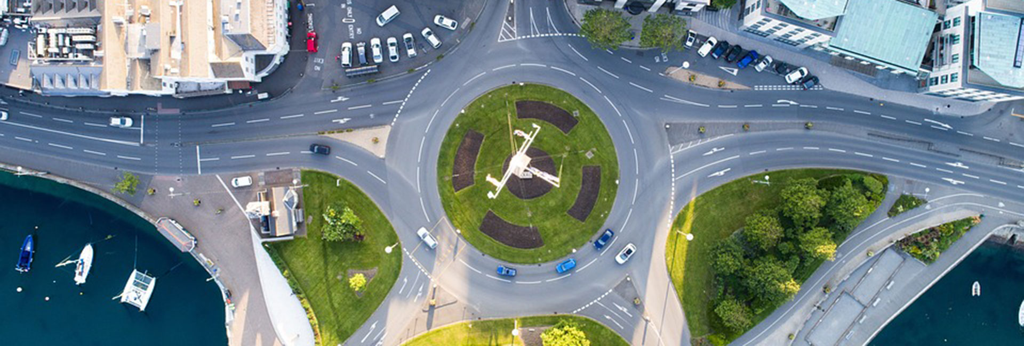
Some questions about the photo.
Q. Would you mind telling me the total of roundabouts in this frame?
1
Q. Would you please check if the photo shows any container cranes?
No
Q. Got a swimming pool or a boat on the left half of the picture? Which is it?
boat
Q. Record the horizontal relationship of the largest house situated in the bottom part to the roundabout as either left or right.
left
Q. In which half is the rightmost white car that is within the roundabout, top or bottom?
bottom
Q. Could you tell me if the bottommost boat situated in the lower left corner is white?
Yes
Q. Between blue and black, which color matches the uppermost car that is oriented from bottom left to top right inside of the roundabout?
blue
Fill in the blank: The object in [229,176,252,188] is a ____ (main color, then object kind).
white vehicle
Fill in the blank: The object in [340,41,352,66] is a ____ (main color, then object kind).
white vehicle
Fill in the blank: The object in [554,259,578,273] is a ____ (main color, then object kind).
blue car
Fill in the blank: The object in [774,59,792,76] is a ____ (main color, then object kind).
black car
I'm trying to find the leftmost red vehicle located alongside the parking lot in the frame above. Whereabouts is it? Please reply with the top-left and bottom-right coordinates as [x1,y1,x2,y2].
[305,31,317,52]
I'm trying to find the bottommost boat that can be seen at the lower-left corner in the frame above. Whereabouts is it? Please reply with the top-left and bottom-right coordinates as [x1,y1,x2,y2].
[114,270,153,313]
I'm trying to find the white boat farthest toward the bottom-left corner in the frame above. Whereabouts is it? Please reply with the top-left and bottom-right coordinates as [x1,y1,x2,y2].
[58,245,89,286]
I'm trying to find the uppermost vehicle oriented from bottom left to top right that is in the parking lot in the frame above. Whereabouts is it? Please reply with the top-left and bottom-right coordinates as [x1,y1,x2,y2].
[374,4,401,25]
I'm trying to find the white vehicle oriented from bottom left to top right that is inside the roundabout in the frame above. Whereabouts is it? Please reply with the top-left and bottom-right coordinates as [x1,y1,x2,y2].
[615,242,638,265]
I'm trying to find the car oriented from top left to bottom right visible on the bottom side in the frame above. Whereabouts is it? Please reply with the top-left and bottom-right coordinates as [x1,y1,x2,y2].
[415,226,439,250]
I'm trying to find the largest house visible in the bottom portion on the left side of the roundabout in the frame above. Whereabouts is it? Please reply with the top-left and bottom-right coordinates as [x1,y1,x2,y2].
[245,187,306,237]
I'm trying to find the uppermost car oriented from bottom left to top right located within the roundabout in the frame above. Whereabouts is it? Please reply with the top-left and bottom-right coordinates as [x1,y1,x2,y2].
[594,227,615,251]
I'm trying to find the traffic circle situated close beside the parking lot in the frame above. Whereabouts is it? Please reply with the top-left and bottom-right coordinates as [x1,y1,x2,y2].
[384,33,673,318]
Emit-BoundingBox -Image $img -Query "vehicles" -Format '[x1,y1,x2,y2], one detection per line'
[229,176,252,188]
[594,227,615,251]
[356,41,366,64]
[305,31,317,52]
[420,25,442,49]
[386,36,399,62]
[801,73,822,90]
[0,109,9,121]
[369,36,382,62]
[784,65,810,84]
[340,41,352,66]
[725,41,745,64]
[554,259,578,273]
[754,53,774,73]
[107,116,132,127]
[415,226,439,250]
[615,242,638,265]
[308,143,331,155]
[710,39,730,60]
[433,12,458,30]
[737,48,761,70]
[774,59,792,76]
[697,34,720,58]
[402,31,417,57]
[374,4,401,25]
